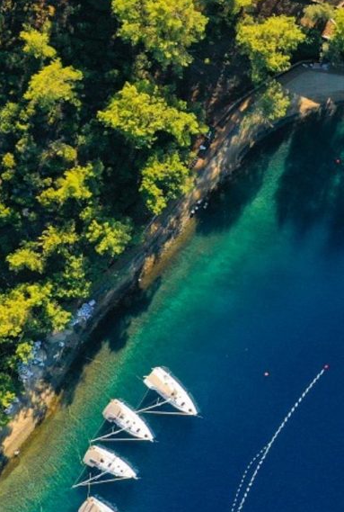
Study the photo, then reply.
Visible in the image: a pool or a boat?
boat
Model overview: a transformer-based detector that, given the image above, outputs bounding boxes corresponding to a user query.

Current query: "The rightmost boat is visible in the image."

[130,357,195,416]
